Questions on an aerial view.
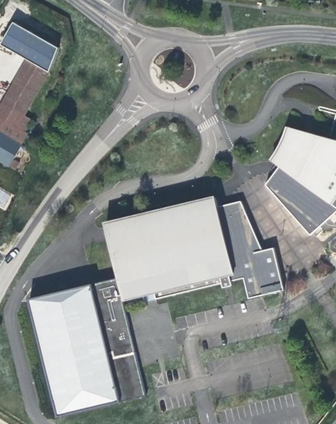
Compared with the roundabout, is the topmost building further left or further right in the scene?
left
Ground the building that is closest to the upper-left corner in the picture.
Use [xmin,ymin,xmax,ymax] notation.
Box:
[2,24,60,71]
